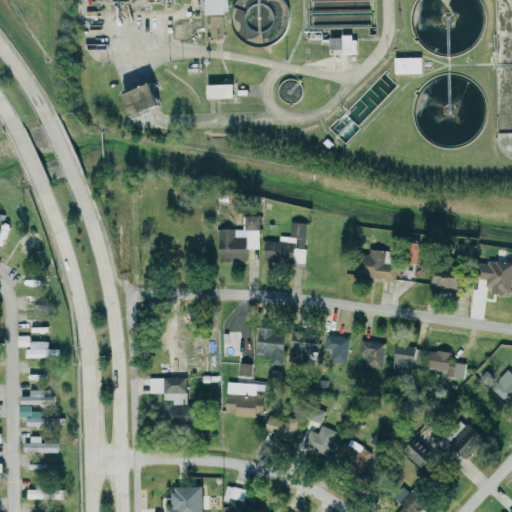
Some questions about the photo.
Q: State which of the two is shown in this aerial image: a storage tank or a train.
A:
storage tank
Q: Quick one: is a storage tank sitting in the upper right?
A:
Yes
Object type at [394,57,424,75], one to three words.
building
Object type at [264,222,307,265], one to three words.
house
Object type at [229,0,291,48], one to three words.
storage tank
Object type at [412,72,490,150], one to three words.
storage tank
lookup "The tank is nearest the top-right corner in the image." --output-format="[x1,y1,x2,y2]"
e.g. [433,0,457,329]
[410,0,488,58]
